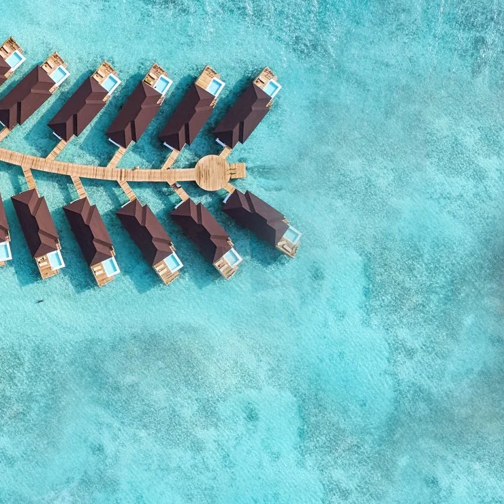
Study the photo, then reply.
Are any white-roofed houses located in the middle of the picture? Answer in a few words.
No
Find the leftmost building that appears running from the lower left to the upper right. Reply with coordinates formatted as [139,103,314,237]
[0,51,67,129]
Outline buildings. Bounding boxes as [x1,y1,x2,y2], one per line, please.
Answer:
[0,35,23,87]
[47,61,118,142]
[115,199,179,285]
[11,188,60,279]
[168,197,239,280]
[219,189,300,262]
[209,65,278,148]
[0,51,67,129]
[158,67,220,152]
[0,190,11,242]
[63,197,115,287]
[105,64,169,149]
